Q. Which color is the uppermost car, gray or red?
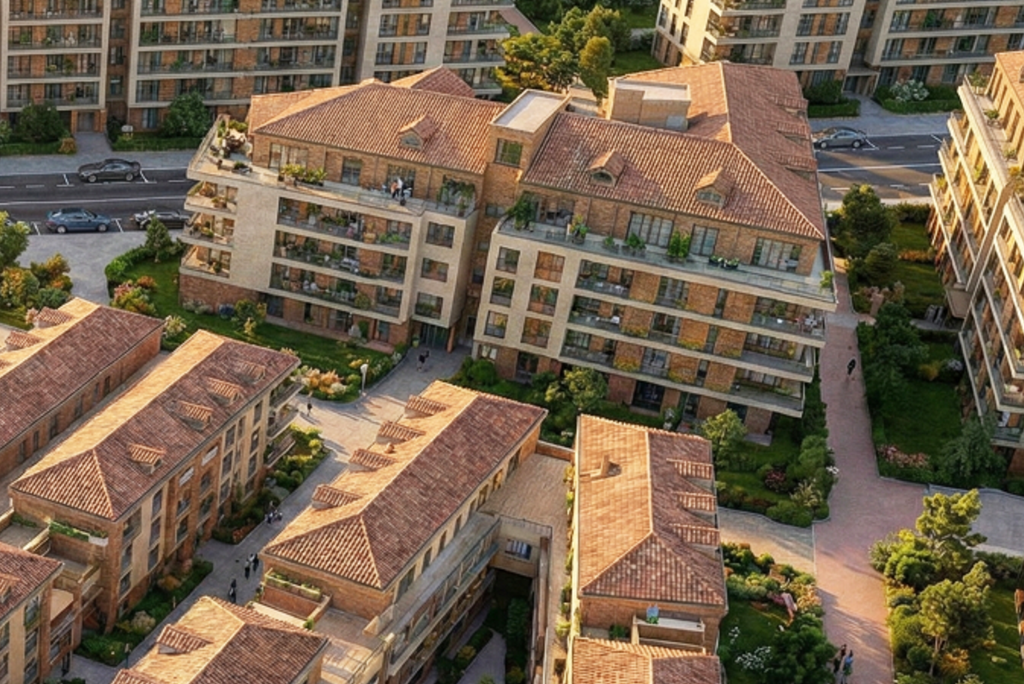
gray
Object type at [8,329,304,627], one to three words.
house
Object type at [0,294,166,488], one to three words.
house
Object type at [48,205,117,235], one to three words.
car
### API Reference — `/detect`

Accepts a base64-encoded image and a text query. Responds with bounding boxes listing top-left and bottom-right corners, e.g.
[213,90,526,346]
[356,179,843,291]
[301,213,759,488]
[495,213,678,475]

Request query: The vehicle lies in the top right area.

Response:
[816,123,870,148]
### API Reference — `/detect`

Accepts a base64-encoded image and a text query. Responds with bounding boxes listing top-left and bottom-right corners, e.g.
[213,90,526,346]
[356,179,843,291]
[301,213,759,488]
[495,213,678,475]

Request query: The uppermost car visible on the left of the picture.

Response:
[78,154,144,183]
